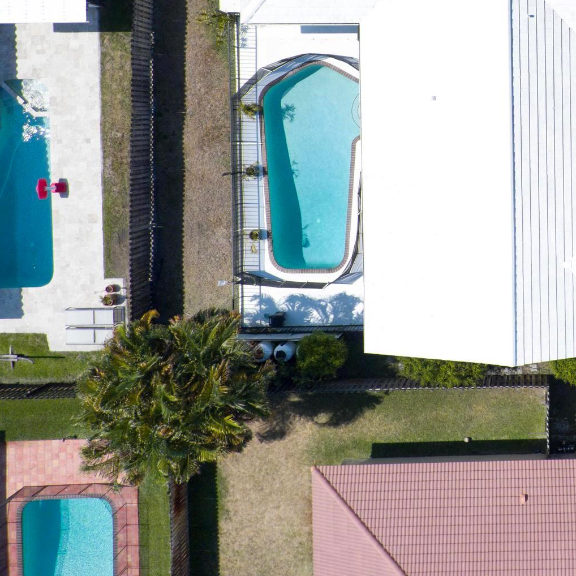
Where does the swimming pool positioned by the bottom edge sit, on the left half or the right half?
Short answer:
left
